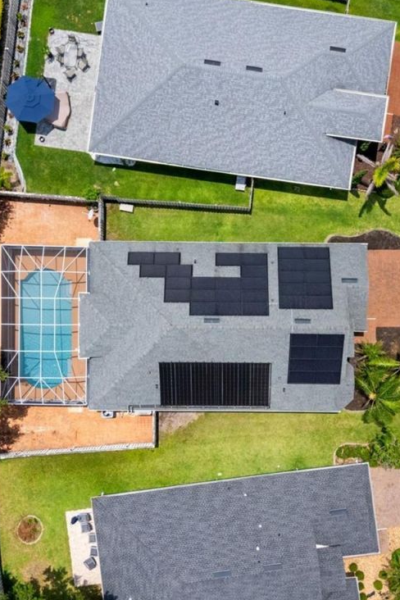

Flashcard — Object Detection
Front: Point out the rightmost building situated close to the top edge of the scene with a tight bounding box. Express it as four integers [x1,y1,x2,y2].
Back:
[88,0,397,190]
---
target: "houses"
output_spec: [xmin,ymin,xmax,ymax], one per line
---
[80,241,368,412]
[88,0,397,190]
[91,462,379,600]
